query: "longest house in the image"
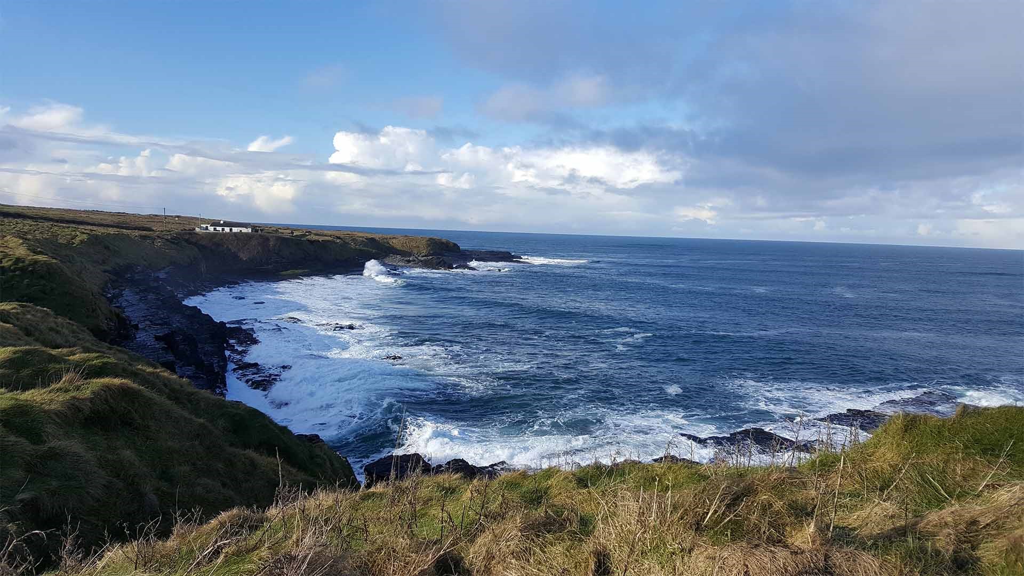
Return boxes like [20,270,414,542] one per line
[195,219,257,234]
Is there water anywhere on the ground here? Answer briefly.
Yes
